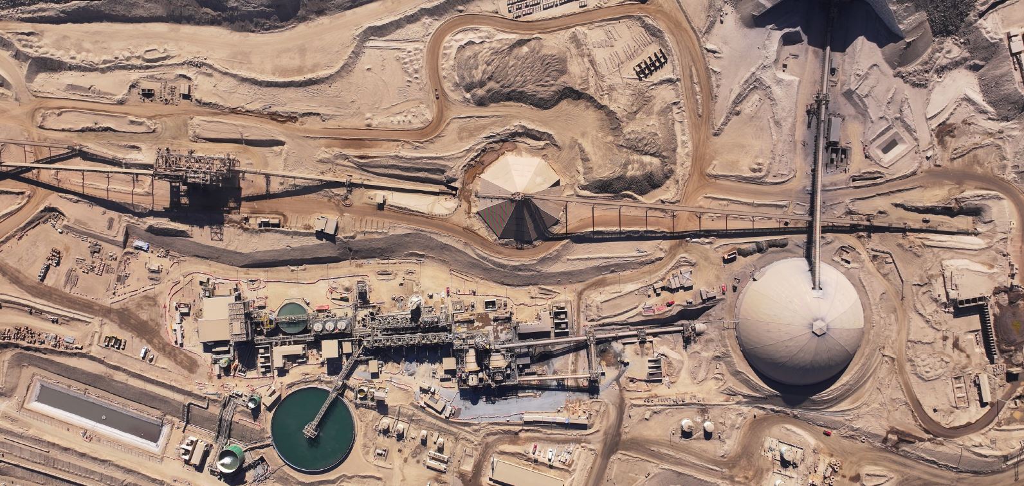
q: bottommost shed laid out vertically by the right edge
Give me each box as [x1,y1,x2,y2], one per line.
[974,373,990,402]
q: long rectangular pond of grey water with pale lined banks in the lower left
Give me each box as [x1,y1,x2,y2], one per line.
[20,374,170,460]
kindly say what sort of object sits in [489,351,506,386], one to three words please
building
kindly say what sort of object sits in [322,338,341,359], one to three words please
building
